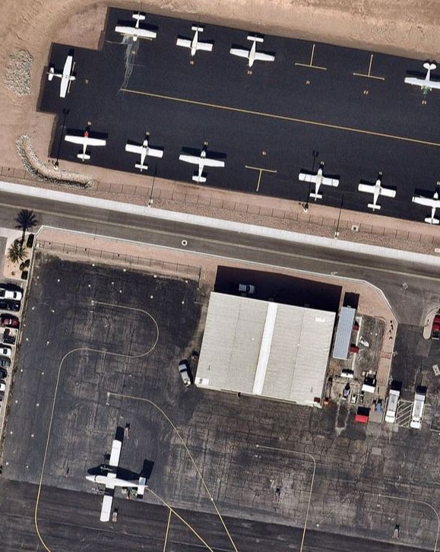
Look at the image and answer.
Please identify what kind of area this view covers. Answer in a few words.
airport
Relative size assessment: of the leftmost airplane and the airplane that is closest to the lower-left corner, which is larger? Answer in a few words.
the airplane that is closest to the lower-left corner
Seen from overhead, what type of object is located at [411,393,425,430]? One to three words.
vehicle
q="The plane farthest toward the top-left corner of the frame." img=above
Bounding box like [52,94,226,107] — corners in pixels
[48,55,79,97]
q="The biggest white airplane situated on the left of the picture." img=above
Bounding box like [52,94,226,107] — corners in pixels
[88,437,148,519]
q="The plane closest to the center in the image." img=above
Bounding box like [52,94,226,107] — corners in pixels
[180,150,224,182]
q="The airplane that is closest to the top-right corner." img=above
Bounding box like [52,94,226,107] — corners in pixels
[404,61,440,95]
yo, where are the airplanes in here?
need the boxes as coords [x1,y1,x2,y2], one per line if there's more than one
[48,55,79,97]
[175,25,214,55]
[230,32,275,66]
[65,130,107,161]
[358,177,397,209]
[114,13,156,42]
[88,437,148,519]
[404,61,440,95]
[180,150,224,182]
[124,137,163,171]
[412,191,440,223]
[298,167,339,200]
